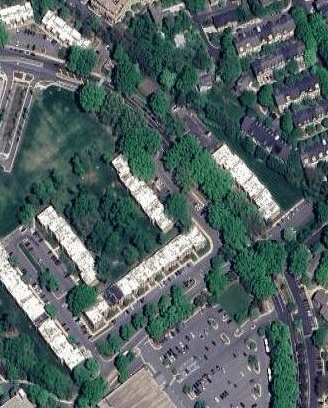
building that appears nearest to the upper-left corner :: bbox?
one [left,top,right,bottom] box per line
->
[0,2,32,29]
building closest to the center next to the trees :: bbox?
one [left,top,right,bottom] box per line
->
[114,153,176,238]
